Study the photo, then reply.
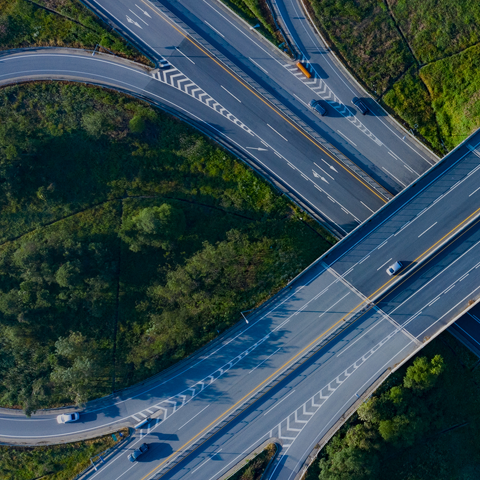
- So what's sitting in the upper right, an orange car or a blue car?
blue car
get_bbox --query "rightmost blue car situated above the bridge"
[351,95,370,118]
